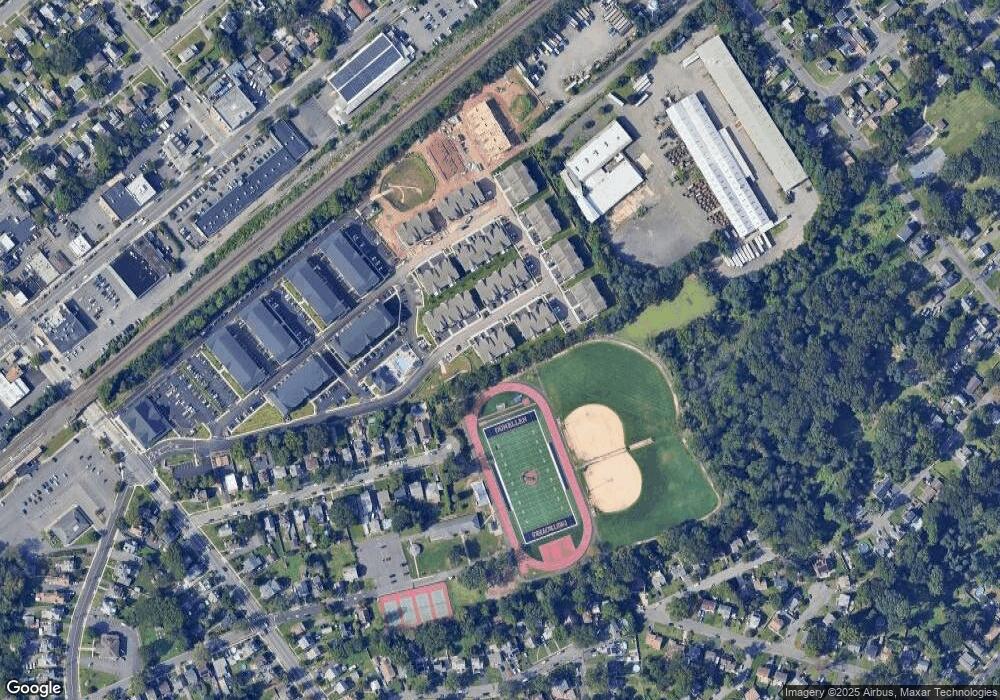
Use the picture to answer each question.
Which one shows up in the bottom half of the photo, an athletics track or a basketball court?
athletics track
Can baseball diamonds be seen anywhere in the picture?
Yes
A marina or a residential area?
residential area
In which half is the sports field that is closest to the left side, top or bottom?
bottom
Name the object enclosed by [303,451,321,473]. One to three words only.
house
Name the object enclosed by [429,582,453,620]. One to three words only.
tennis court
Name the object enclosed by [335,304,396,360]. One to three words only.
building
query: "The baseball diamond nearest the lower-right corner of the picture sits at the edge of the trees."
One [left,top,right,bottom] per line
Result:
[576,436,718,547]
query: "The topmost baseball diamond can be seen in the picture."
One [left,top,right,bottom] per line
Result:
[537,341,681,467]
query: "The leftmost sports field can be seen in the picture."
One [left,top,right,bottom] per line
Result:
[477,396,585,558]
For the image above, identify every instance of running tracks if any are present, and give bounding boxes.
[465,388,594,574]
